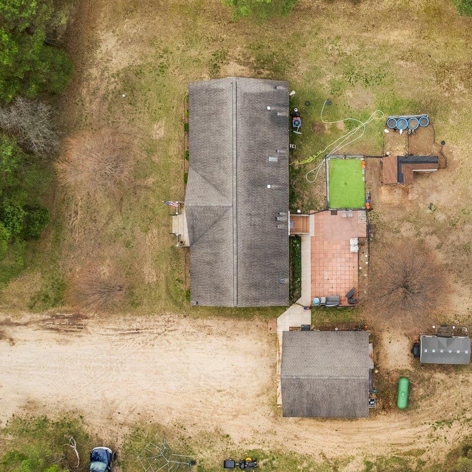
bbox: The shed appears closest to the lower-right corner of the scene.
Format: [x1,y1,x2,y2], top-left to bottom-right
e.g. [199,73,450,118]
[419,333,471,363]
